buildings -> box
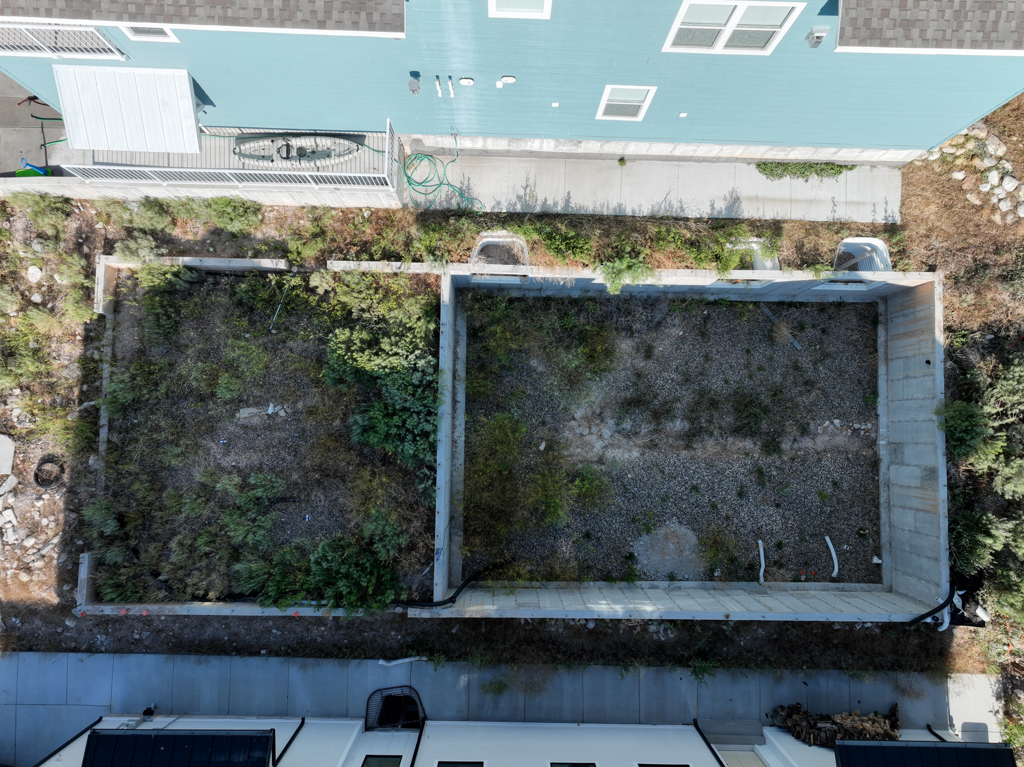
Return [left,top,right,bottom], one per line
[0,0,1024,168]
[32,697,1019,767]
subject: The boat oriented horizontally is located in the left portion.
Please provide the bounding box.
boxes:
[227,131,361,165]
